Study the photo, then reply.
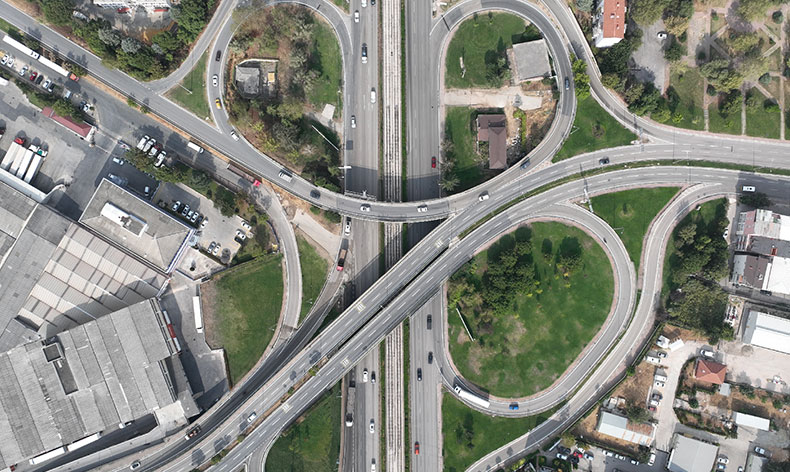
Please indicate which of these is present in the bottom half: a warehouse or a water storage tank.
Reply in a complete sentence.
It is a warehouse that can be seen in the bottom half.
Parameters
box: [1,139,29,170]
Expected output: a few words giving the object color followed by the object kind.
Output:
white truck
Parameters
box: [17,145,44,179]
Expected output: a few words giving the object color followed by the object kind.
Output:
white truck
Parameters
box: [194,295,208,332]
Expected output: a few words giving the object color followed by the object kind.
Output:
white vehicle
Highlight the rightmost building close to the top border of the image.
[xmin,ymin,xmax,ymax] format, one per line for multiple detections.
[591,0,624,47]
